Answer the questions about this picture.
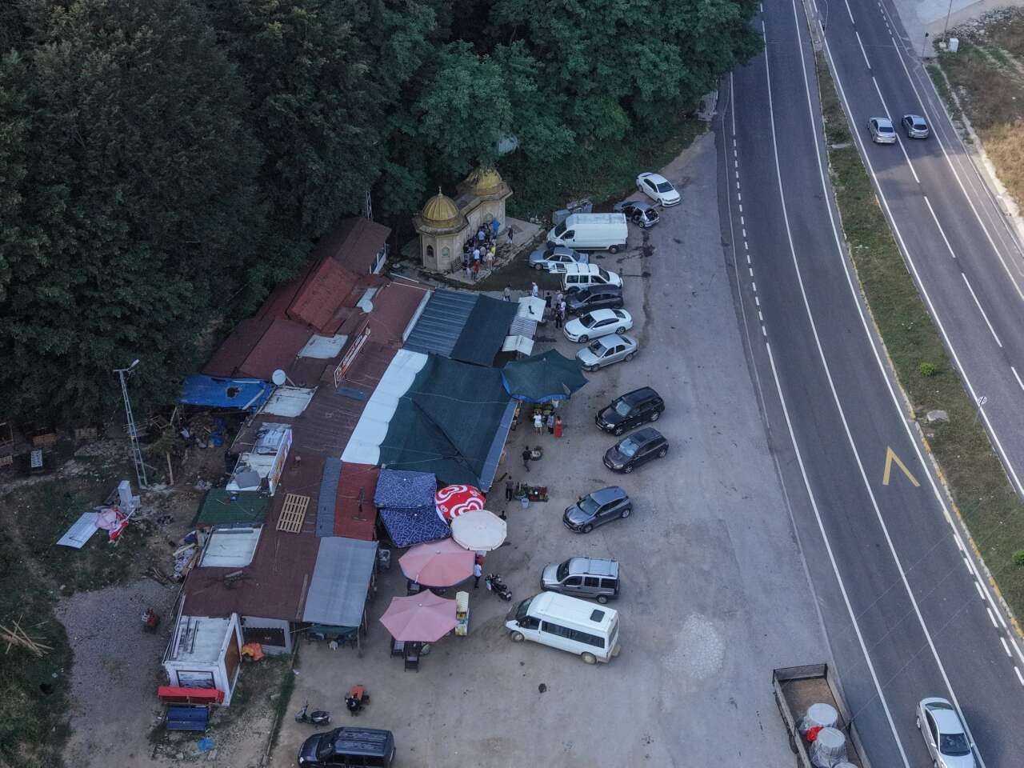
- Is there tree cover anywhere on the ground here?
Yes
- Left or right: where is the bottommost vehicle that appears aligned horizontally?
left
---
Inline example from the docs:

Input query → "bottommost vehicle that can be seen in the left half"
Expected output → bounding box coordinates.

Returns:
[298,724,397,768]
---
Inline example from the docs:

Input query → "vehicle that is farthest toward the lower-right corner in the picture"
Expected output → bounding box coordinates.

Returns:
[911,688,984,768]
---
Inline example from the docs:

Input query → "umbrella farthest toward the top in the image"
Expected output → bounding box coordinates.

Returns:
[501,349,588,404]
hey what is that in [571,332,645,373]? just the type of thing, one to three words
car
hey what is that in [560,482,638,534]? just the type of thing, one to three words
car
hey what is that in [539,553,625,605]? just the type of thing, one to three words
vehicle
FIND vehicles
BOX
[564,277,630,317]
[562,306,635,344]
[560,482,638,534]
[601,422,674,475]
[571,332,645,373]
[502,588,624,665]
[525,242,591,271]
[298,724,397,768]
[485,568,510,601]
[633,171,683,206]
[291,695,332,724]
[545,258,621,293]
[539,553,625,605]
[911,688,984,768]
[863,113,895,141]
[544,208,628,253]
[607,195,669,229]
[592,384,669,437]
[773,663,866,768]
[899,110,929,135]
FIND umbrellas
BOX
[448,508,508,567]
[376,585,461,646]
[376,470,437,508]
[399,533,476,591]
[379,506,449,549]
[436,489,487,525]
[501,349,588,404]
